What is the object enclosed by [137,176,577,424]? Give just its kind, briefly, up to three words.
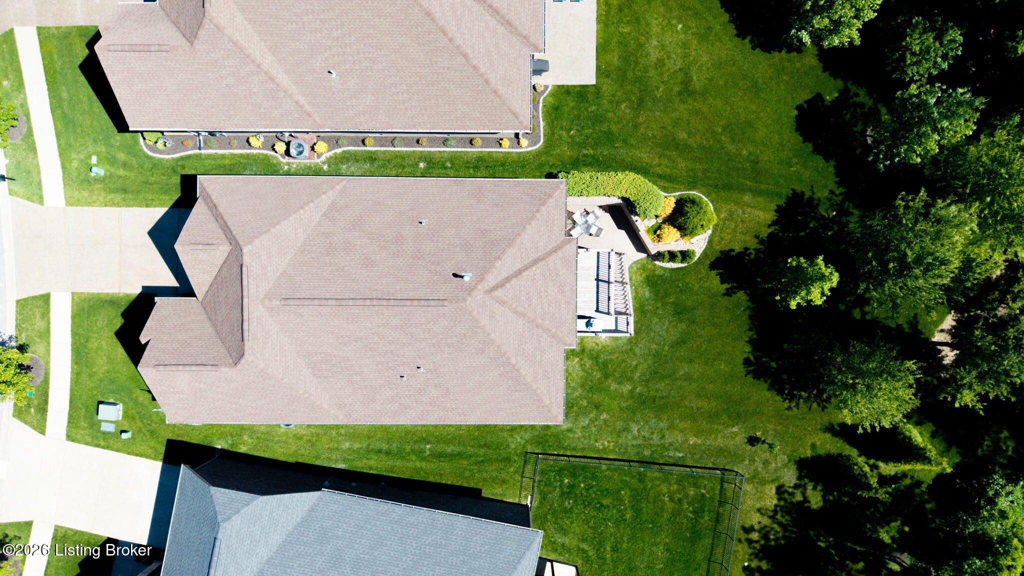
house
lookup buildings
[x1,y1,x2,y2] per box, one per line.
[99,0,541,136]
[138,443,543,576]
[137,176,577,424]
